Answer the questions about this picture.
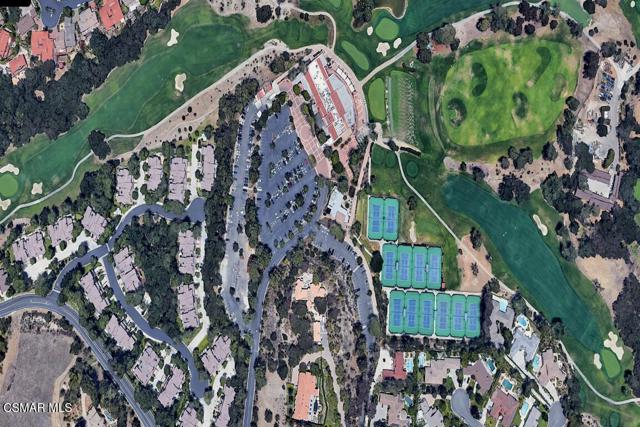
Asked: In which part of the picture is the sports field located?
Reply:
top right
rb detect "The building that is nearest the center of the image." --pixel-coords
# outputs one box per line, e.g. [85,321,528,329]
[329,190,349,223]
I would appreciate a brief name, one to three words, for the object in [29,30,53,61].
house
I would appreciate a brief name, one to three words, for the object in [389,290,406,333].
tennis court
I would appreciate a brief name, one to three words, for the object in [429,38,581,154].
sports field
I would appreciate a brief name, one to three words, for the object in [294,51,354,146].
building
